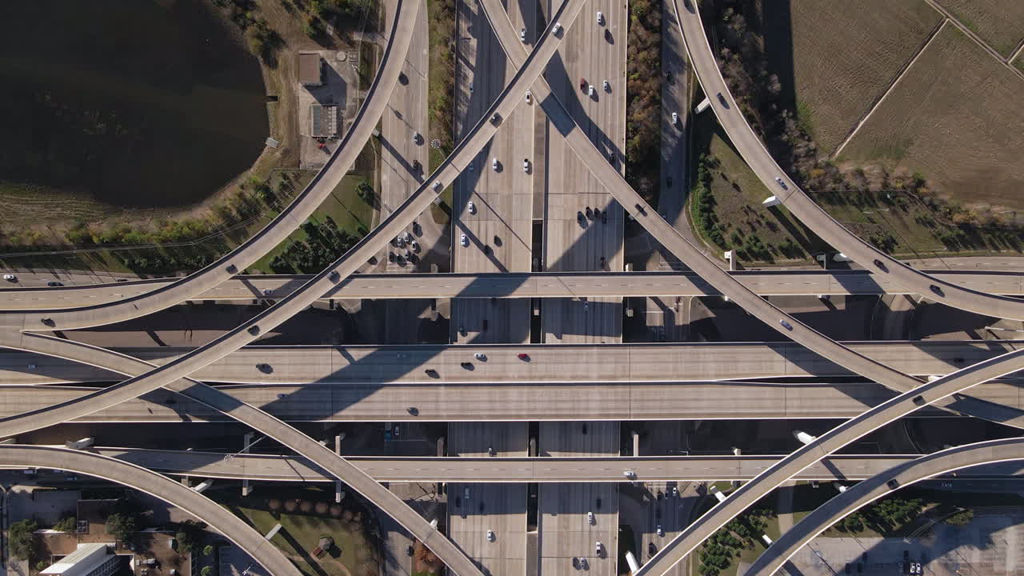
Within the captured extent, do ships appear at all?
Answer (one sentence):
No, no ship can be seen from above.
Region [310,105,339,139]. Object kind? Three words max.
building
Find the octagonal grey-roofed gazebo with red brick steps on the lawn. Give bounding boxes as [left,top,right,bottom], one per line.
[313,535,333,555]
